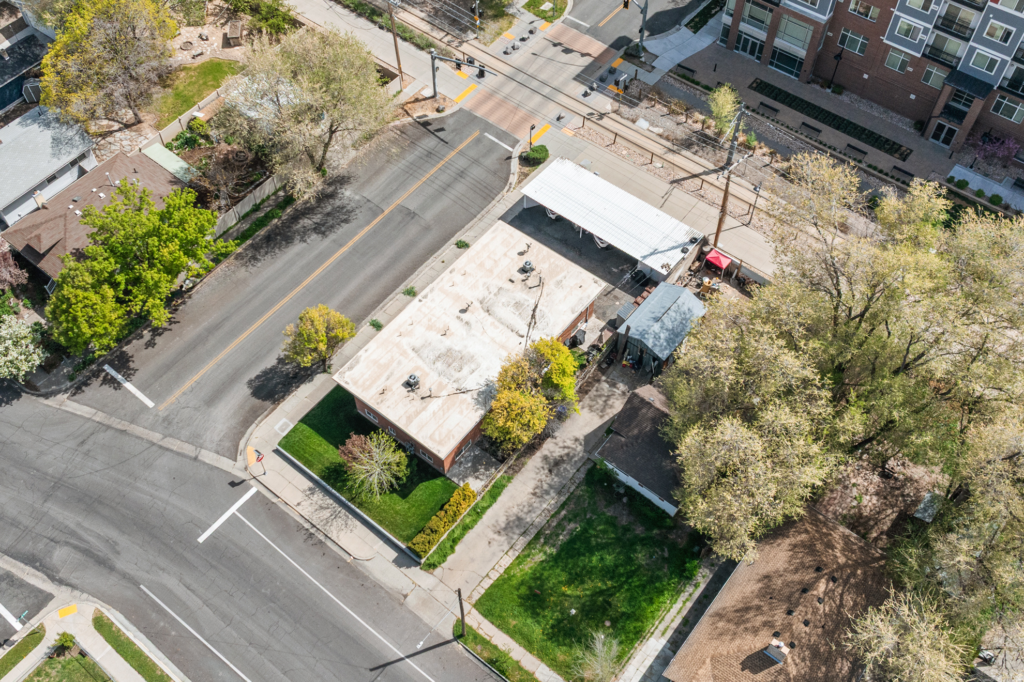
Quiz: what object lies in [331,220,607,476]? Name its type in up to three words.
building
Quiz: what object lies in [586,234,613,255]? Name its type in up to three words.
car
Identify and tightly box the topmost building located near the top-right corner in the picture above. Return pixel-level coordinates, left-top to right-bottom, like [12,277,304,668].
[716,0,1024,166]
